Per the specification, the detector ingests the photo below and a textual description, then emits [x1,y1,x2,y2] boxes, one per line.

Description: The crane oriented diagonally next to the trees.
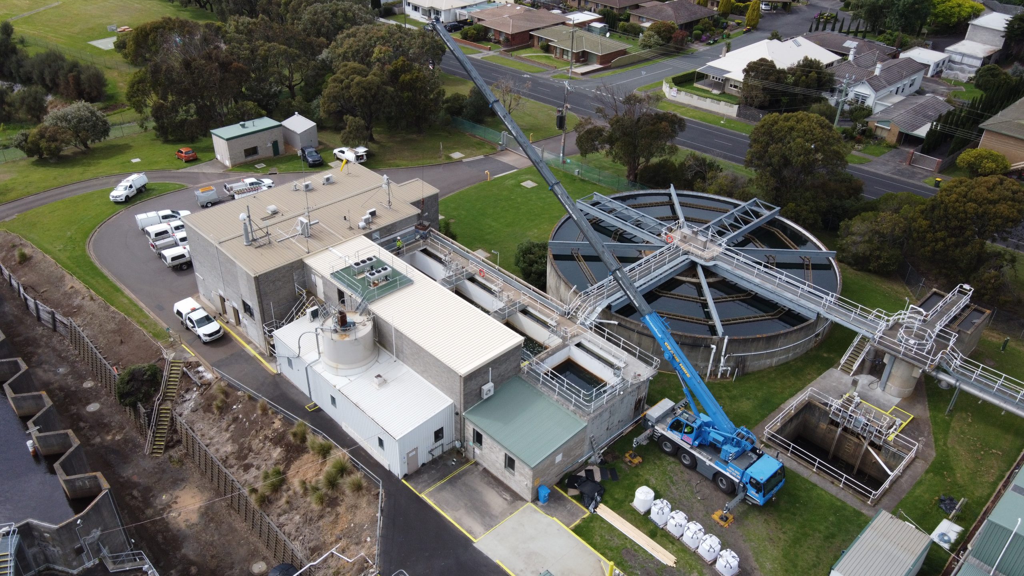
[413,14,782,519]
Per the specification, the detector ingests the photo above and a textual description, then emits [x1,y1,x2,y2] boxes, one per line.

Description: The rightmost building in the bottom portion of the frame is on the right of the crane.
[926,452,1024,576]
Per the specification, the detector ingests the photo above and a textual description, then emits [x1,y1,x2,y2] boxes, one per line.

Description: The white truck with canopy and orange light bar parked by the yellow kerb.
[178,297,223,343]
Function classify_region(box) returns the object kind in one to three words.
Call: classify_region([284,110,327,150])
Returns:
shed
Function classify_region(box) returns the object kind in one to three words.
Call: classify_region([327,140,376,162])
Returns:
truck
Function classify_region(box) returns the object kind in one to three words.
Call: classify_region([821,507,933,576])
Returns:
shed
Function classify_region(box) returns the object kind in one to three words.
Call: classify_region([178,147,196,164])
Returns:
car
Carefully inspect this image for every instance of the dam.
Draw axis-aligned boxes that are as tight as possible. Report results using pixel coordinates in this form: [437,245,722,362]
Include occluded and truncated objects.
[0,328,112,495]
